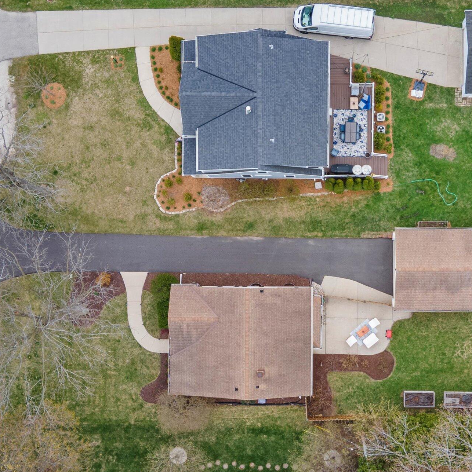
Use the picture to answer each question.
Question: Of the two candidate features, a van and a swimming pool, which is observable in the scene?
van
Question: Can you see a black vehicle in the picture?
No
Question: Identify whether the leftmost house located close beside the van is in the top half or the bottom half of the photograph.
top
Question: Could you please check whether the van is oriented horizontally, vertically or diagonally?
horizontally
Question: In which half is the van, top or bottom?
top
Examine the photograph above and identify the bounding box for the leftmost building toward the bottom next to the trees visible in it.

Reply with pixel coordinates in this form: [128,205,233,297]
[167,270,324,400]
